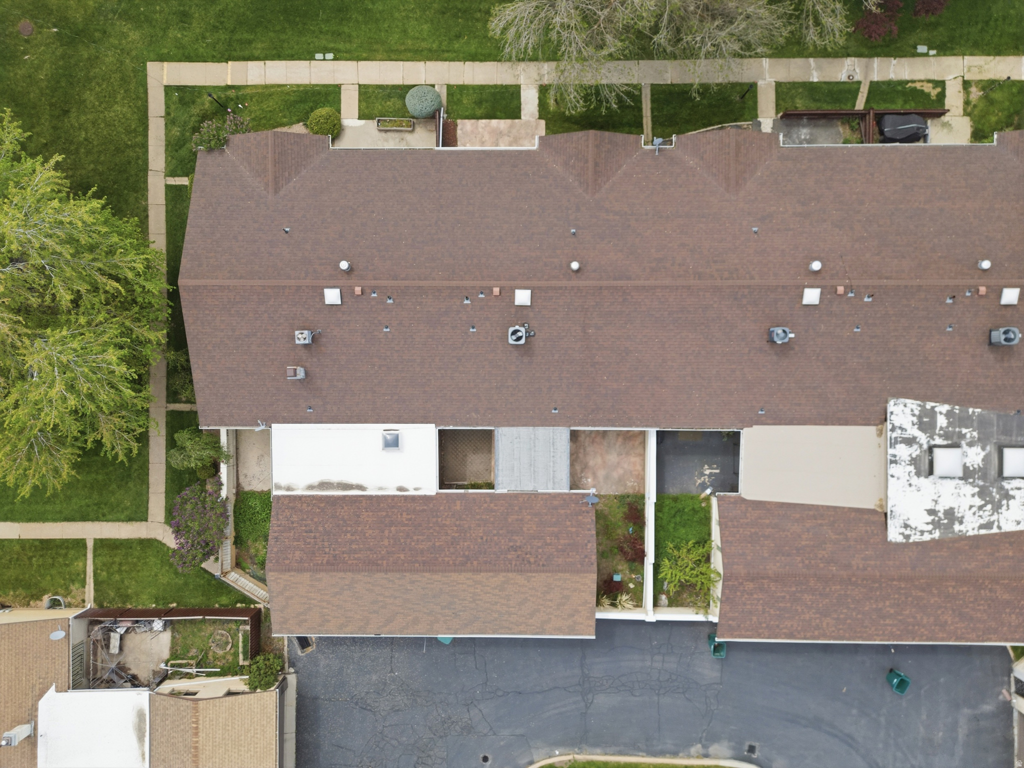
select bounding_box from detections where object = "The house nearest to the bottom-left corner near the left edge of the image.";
[0,604,285,768]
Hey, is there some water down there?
No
